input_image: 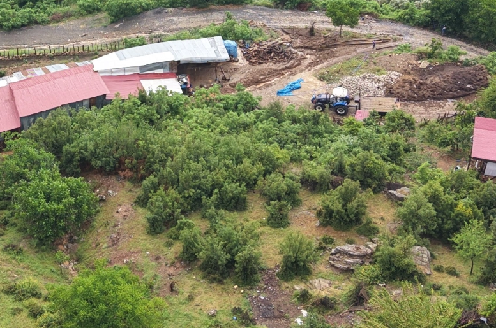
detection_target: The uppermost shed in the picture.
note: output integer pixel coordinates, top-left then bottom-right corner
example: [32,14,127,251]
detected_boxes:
[92,36,230,89]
